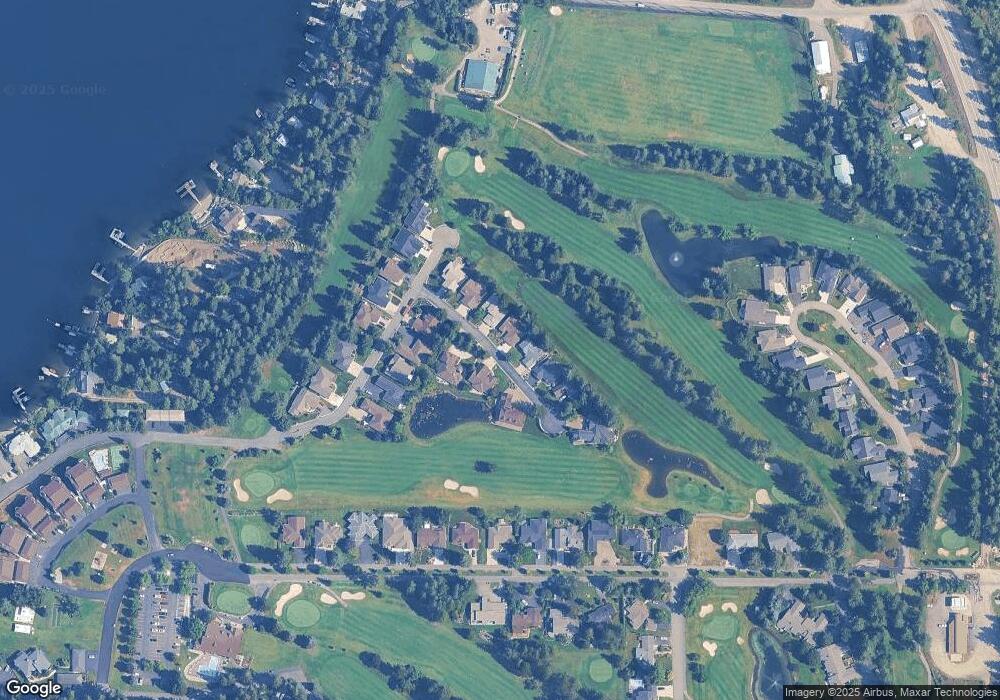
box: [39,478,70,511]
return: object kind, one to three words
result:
house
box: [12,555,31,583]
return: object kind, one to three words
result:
building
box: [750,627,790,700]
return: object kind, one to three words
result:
pond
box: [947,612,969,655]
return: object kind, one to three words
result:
barn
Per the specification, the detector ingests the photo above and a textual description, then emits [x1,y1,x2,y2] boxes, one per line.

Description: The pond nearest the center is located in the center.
[410,393,491,439]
